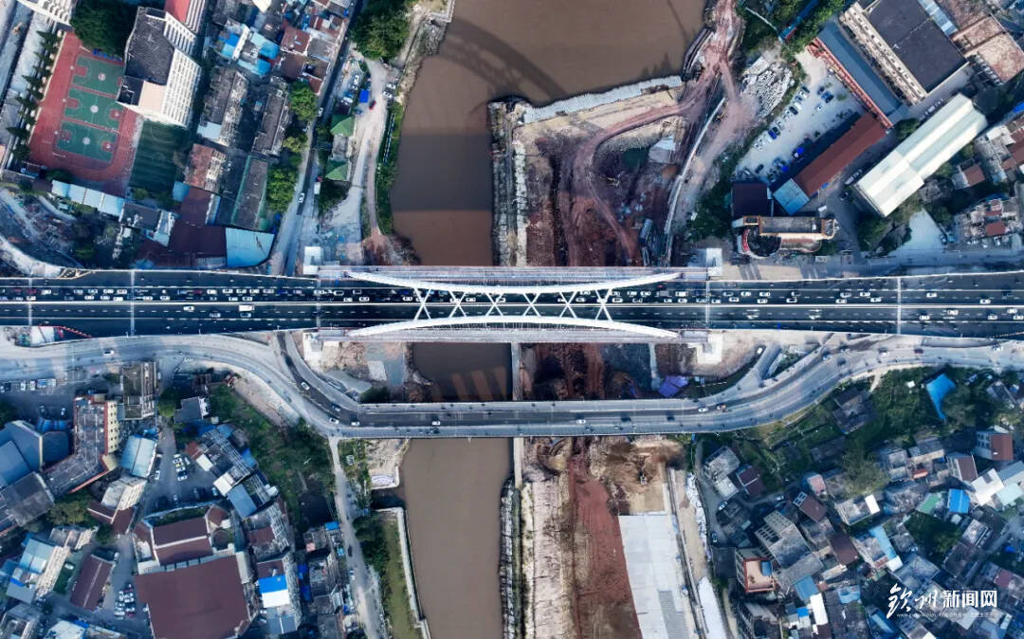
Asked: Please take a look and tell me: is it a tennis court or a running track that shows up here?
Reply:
running track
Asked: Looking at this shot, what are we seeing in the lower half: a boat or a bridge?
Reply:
bridge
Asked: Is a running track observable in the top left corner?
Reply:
Yes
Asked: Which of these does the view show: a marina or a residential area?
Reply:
residential area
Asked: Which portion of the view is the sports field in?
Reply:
top left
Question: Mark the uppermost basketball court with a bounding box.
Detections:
[72,55,128,94]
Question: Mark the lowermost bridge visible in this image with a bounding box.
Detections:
[358,402,676,437]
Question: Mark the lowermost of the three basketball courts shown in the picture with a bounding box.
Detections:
[55,122,120,162]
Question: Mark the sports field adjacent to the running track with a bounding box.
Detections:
[130,115,189,195]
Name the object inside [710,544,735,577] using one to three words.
shed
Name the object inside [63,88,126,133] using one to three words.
basketball court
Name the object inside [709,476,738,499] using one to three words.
house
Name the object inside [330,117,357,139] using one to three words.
building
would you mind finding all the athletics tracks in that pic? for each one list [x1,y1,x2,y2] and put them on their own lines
[27,31,142,195]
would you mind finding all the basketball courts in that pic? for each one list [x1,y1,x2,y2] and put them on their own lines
[72,55,128,94]
[63,88,126,133]
[55,122,120,162]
